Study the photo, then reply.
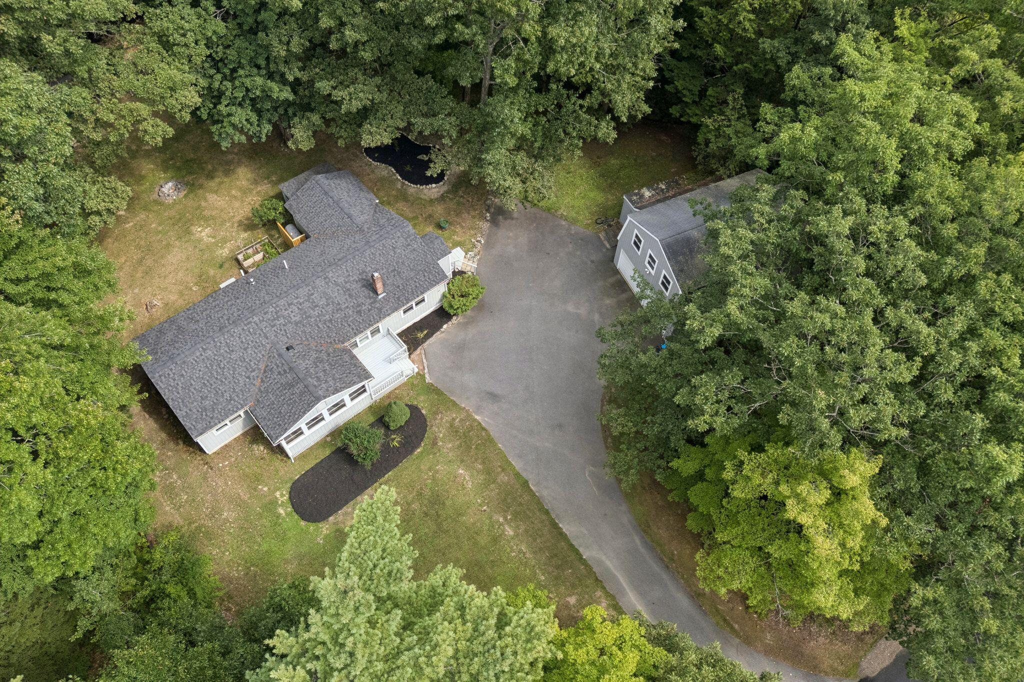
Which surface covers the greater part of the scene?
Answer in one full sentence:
The largest share of the image is taken up by trees.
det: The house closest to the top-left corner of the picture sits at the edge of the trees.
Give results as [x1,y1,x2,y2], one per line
[131,162,452,462]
